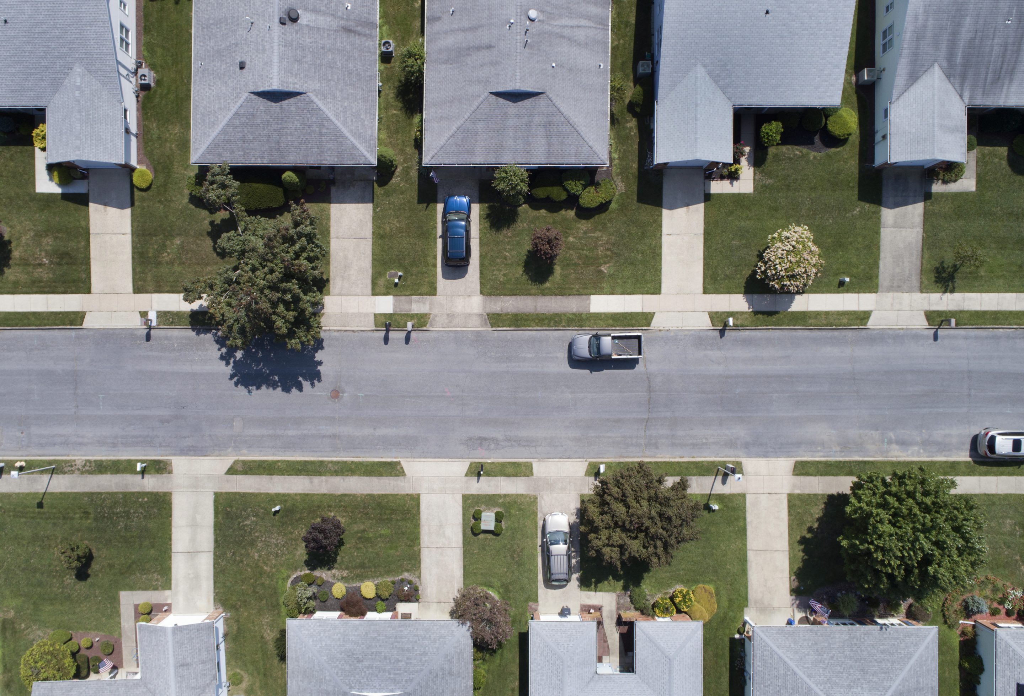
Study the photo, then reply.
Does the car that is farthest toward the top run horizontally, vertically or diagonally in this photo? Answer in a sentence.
In this picture, the car that is farthest toward the top is oriented vertically.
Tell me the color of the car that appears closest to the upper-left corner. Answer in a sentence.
From above, the car that appears closest to the upper-left corner appears blue.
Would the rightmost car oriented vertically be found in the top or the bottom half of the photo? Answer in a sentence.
The rightmost car oriented vertically sits in the bottom half of the picture.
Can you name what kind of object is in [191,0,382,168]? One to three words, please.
house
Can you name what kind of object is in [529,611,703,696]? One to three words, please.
house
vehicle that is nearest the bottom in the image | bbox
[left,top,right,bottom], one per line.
[541,512,574,584]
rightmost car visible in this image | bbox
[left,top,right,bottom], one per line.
[975,429,1024,459]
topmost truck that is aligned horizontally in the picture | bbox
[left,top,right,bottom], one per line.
[568,329,644,364]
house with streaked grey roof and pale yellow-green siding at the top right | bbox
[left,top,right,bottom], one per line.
[873,0,1024,170]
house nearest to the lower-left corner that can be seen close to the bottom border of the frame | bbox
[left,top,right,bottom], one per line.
[34,610,232,696]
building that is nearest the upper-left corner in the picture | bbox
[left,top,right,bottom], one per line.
[0,0,144,178]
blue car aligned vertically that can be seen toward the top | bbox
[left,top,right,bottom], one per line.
[440,197,474,267]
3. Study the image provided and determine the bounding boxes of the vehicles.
[568,329,644,364]
[541,512,574,584]
[440,197,474,267]
[975,429,1024,459]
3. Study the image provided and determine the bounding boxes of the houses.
[0,0,144,178]
[191,0,382,168]
[34,610,232,696]
[286,612,474,696]
[646,0,855,179]
[529,611,703,696]
[873,0,1024,170]
[423,0,609,169]
[966,620,1024,696]
[730,615,938,696]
